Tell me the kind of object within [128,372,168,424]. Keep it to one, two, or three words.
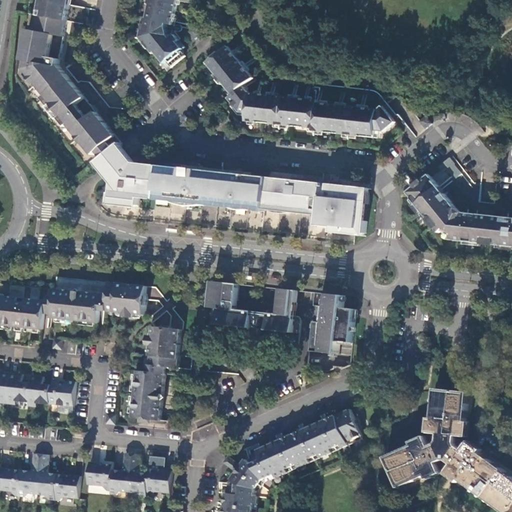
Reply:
house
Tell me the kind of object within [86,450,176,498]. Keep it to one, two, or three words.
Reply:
house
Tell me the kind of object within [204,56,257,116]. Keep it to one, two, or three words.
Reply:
building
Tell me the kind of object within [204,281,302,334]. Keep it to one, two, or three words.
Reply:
building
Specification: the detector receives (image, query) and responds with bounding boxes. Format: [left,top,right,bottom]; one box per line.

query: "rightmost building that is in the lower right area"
[380,388,512,512]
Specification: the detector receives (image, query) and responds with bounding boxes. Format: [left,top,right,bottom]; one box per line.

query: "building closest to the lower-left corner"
[0,454,85,505]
